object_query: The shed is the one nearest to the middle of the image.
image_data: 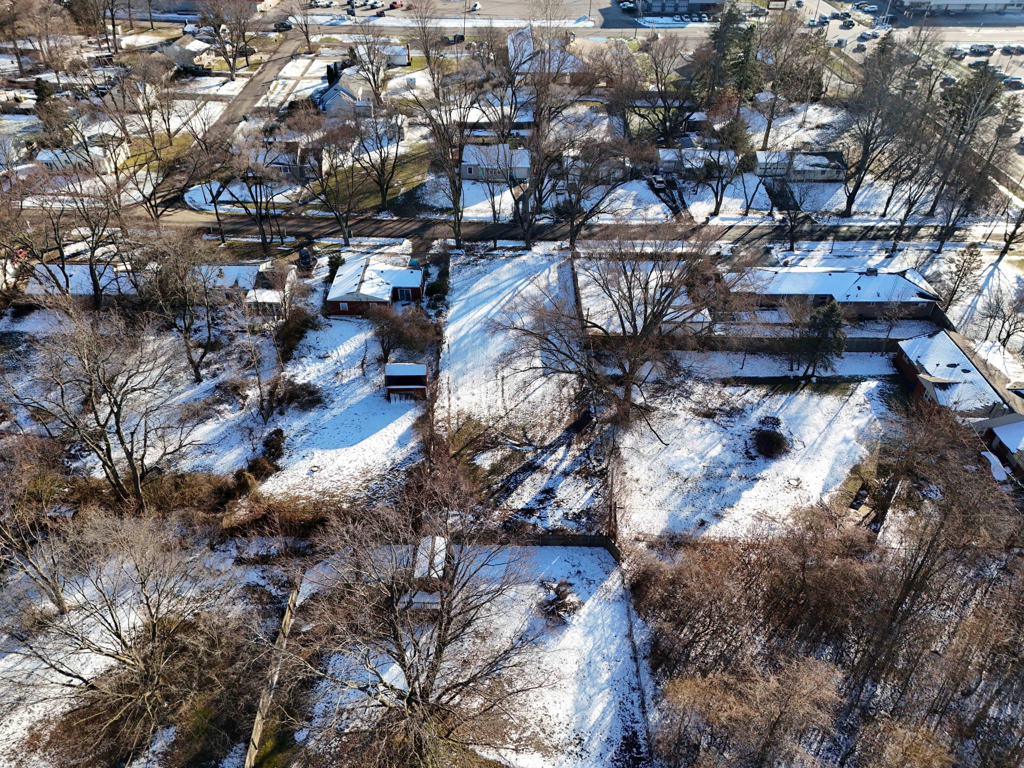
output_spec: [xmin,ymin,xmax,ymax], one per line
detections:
[383,356,428,405]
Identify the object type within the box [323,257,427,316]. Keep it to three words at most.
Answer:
house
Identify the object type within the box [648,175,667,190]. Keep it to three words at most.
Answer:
car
